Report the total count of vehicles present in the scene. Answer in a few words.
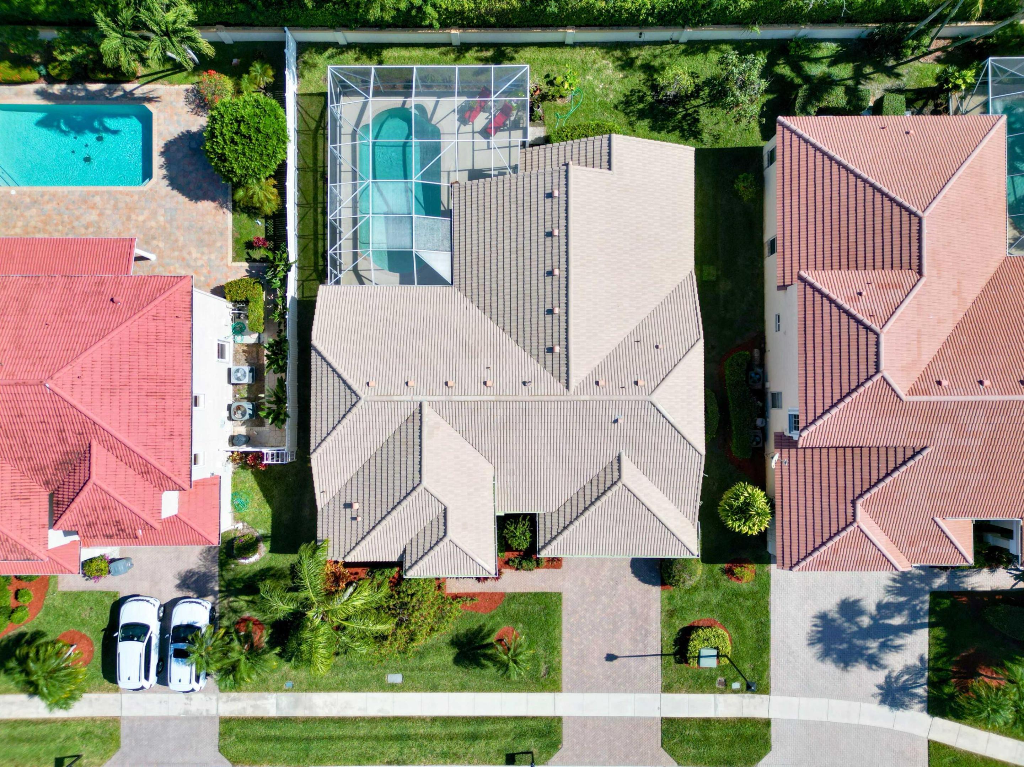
2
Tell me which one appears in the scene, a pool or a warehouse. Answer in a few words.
pool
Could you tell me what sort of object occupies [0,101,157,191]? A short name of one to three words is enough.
swimming pool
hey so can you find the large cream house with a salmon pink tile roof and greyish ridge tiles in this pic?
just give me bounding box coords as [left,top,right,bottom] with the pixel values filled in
[762,112,1024,574]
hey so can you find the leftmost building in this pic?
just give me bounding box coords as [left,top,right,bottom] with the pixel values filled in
[0,235,247,577]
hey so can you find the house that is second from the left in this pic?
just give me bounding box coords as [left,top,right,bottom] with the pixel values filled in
[309,130,708,580]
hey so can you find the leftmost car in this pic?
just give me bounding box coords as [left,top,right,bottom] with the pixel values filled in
[114,594,168,690]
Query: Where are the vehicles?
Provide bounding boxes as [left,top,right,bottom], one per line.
[166,596,218,692]
[114,594,168,690]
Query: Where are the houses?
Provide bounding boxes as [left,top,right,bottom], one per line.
[0,235,247,577]
[309,130,708,580]
[762,112,1024,574]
